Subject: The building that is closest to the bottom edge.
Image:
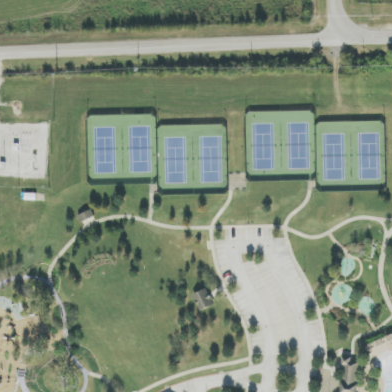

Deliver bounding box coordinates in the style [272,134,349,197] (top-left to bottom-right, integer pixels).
[338,356,358,392]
